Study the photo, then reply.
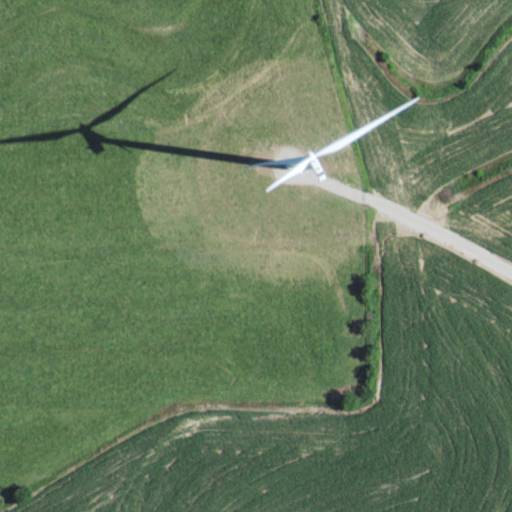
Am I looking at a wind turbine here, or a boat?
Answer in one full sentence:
I can see a wind turbine in this picture.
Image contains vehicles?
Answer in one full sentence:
No, there's no vehicle here.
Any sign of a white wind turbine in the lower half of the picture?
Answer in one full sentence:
No, in the lower half of the picture there is no white wind turbine.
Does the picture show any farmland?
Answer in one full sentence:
Yes, the picture does contain farmland.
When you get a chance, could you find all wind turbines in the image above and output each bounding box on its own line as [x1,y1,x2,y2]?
[247,97,417,189]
